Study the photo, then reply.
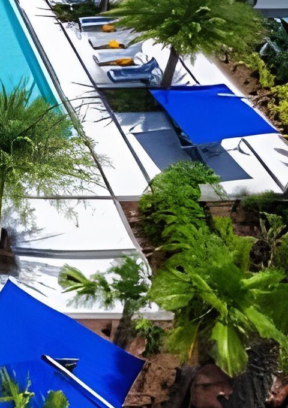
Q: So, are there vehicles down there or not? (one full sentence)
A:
No, the scene contains no vehicle.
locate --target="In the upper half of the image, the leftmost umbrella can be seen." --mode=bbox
[150,83,278,167]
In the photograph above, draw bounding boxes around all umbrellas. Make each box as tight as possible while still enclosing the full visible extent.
[0,278,144,408]
[150,83,278,167]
